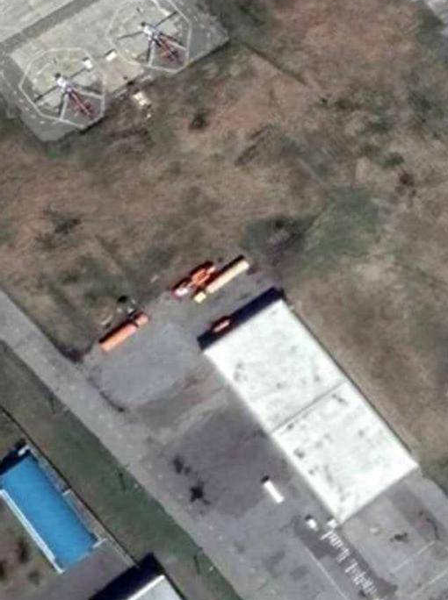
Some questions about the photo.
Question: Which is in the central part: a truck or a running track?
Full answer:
It is a truck that can be seen in the central part.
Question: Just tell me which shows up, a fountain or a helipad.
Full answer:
I can see a helipad in this picture.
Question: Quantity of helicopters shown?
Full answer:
Looking from above, you can make out 2 helicopters.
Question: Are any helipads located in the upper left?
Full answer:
Yes, looking in the upper left, one can make out a helipad.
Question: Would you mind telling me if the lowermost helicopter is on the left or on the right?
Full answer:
The lowermost helicopter appears in the left half of the scene.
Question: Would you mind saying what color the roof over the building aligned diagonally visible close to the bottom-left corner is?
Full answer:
The roof of the building aligned diagonally visible close to the bottom-left corner is blue.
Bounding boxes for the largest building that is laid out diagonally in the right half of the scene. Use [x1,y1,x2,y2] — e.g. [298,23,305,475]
[203,298,417,523]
